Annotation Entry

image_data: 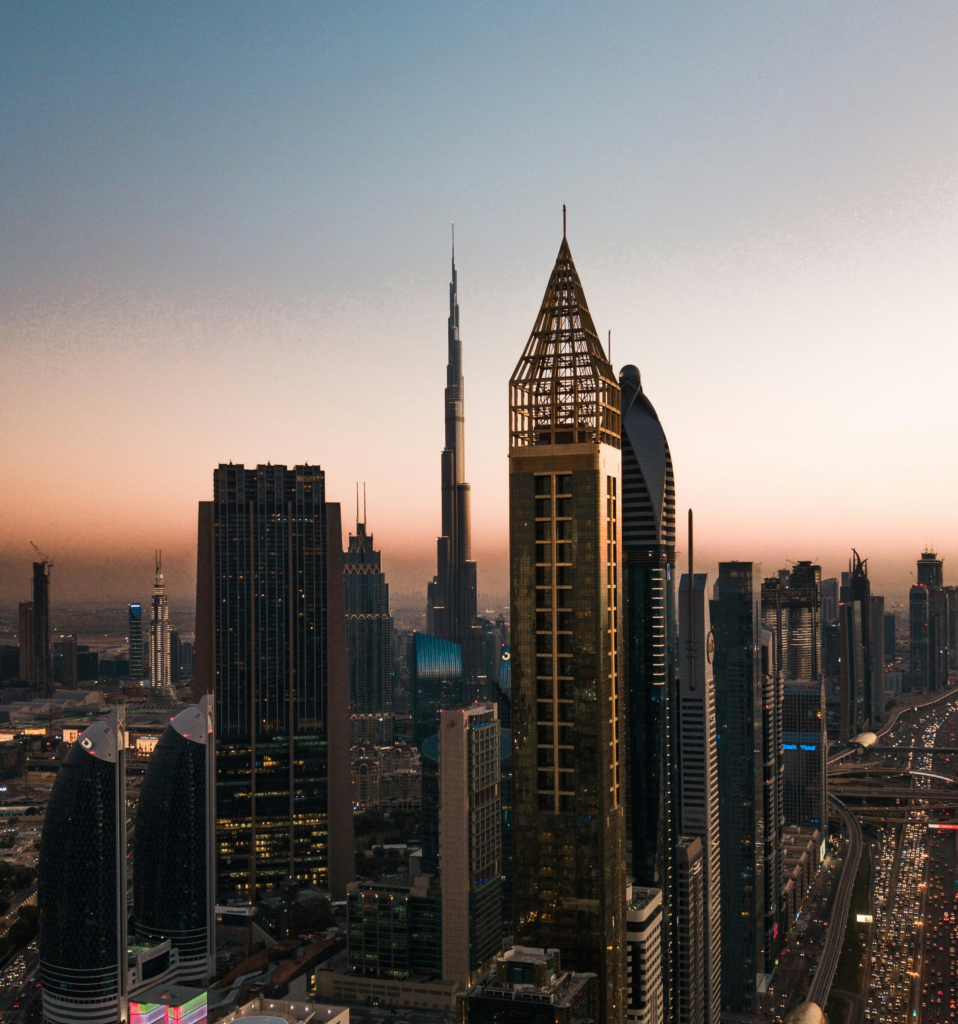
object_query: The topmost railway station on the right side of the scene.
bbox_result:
[844,725,886,752]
